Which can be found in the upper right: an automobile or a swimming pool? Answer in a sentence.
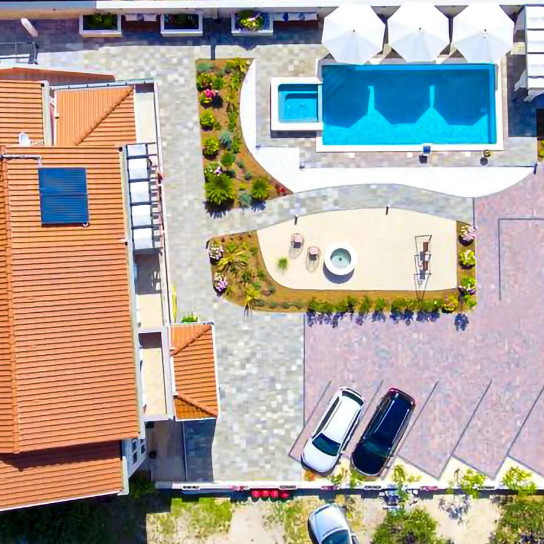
The feature located in the upper right is a swimming pool.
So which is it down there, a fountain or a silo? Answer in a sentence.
The one in the frame is a fountain.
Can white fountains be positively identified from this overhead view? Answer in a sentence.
Yes, you can see a white fountain in this photo.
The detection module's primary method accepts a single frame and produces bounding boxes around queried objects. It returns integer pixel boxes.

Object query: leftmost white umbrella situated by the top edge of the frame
[322,6,384,67]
